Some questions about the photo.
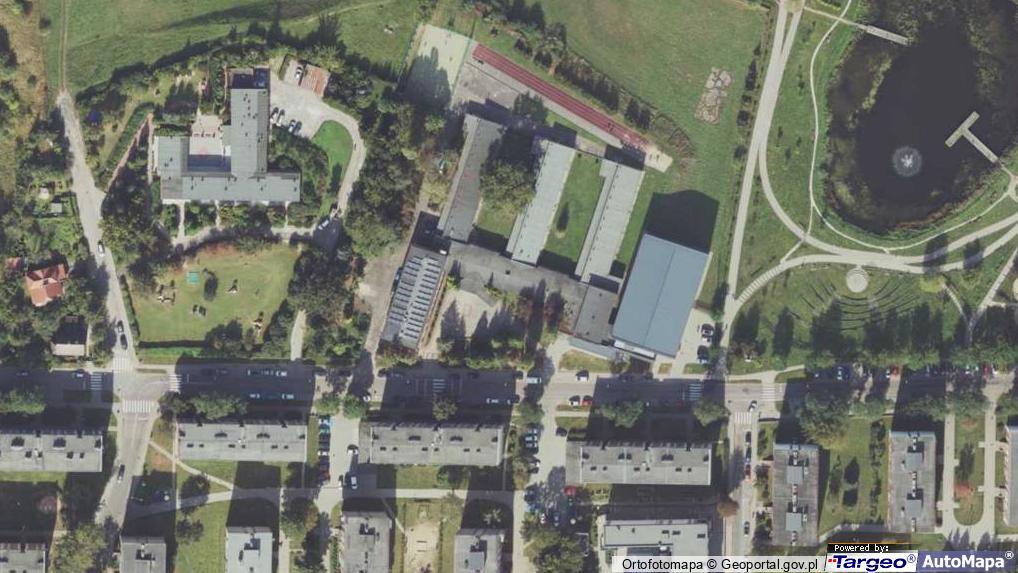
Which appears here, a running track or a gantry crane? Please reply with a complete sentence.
Visible in the photo is a running track.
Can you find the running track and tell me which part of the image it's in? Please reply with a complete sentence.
The running track sits in the top section of the image.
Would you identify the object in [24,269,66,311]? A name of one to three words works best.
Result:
house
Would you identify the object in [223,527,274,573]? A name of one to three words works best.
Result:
building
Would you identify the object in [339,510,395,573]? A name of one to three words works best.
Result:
building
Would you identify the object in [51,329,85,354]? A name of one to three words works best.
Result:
house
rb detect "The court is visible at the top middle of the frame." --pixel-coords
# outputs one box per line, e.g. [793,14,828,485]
[406,25,469,113]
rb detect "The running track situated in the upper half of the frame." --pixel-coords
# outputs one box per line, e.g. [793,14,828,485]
[473,42,647,156]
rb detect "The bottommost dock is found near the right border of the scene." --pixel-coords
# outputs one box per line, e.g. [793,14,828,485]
[945,111,998,163]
